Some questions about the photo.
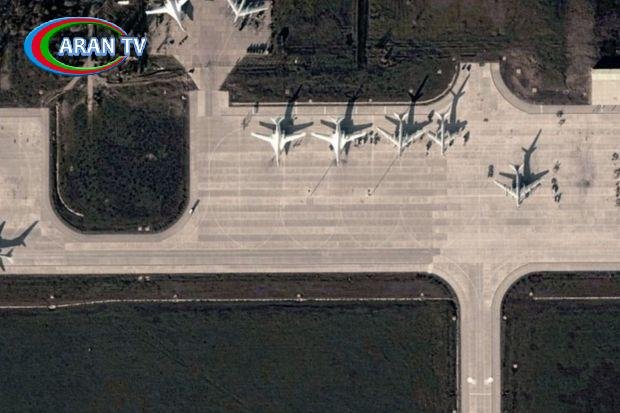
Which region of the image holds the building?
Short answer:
top right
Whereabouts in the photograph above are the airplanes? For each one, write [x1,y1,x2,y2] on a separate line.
[143,0,185,31]
[249,116,305,165]
[310,116,366,165]
[493,161,542,206]
[226,0,267,22]
[0,249,13,263]
[427,111,459,158]
[376,112,425,157]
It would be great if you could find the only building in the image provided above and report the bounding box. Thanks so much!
[592,68,620,105]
